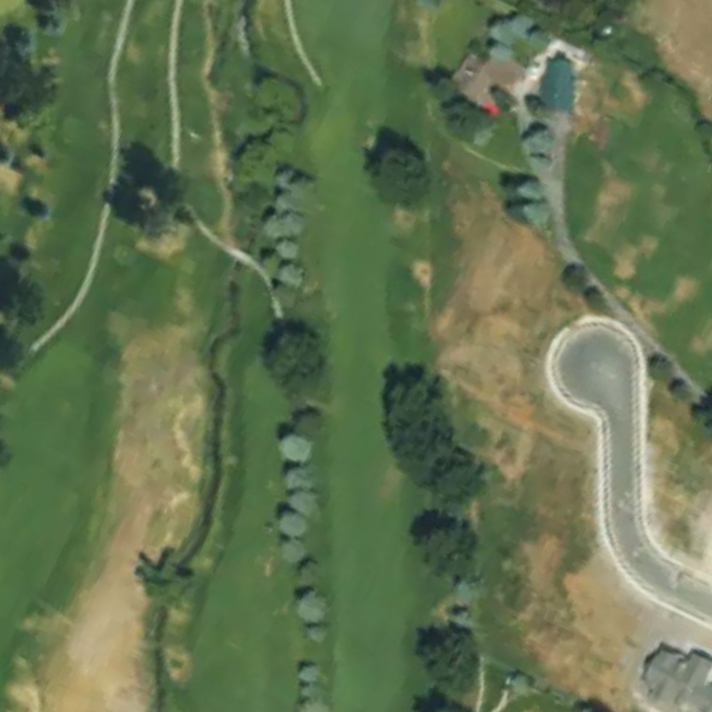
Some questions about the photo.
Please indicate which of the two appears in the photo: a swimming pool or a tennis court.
swimming pool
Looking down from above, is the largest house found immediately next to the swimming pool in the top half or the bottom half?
top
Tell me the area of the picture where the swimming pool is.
top right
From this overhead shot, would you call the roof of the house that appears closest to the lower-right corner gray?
Yes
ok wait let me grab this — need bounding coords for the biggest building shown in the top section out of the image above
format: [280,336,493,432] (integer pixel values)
[451,52,528,108]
